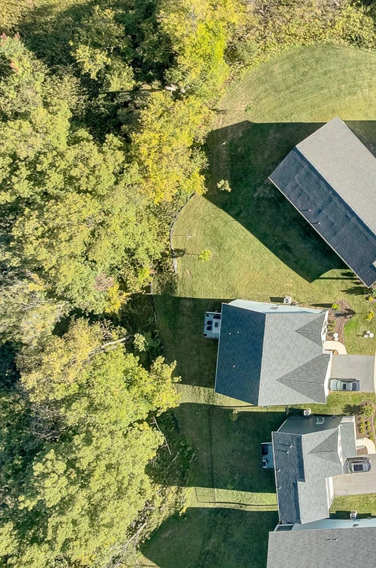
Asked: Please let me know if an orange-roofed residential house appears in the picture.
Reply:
No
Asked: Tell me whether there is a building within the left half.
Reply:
No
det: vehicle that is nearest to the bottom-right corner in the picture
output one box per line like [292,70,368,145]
[344,458,373,474]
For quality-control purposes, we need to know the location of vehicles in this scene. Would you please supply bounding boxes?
[344,458,373,474]
[331,378,360,392]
